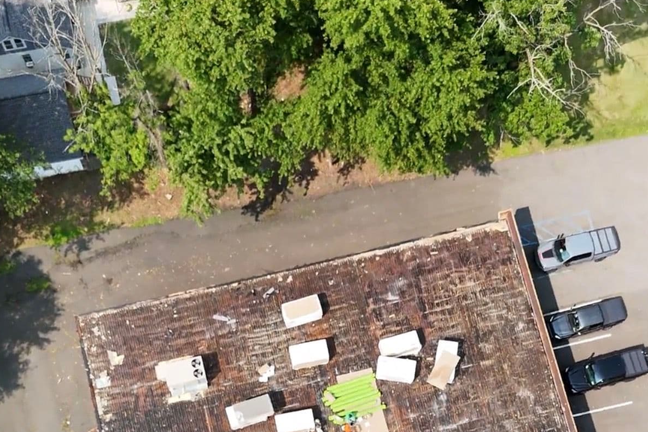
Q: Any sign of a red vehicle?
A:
No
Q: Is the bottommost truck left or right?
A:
right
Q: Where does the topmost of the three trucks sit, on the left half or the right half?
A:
right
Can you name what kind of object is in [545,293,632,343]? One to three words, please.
truck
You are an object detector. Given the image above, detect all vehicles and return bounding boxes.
[545,293,632,343]
[537,225,622,275]
[561,343,648,397]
